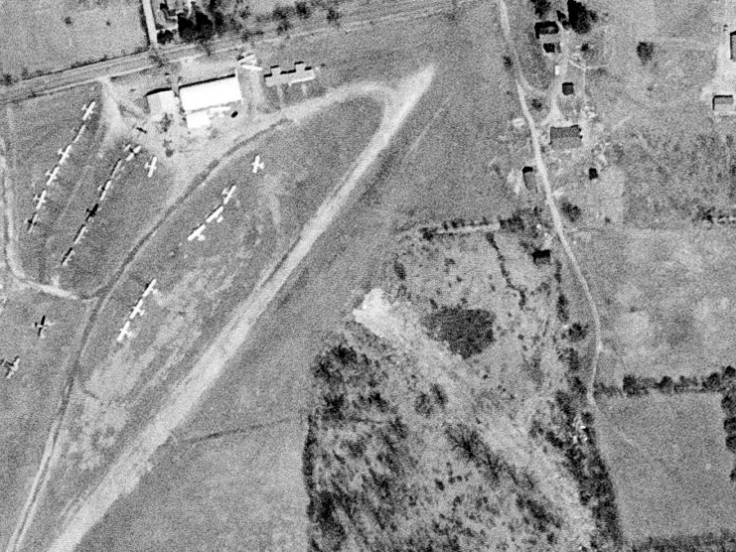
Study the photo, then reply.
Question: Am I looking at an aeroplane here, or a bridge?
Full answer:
This aerial view contains an aeroplane.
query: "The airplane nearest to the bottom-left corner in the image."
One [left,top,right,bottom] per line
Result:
[0,357,19,378]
